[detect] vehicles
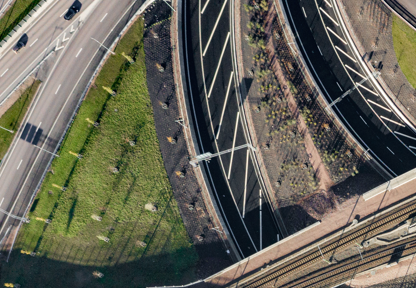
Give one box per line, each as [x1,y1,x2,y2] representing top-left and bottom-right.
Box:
[10,39,24,53]
[62,3,78,19]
